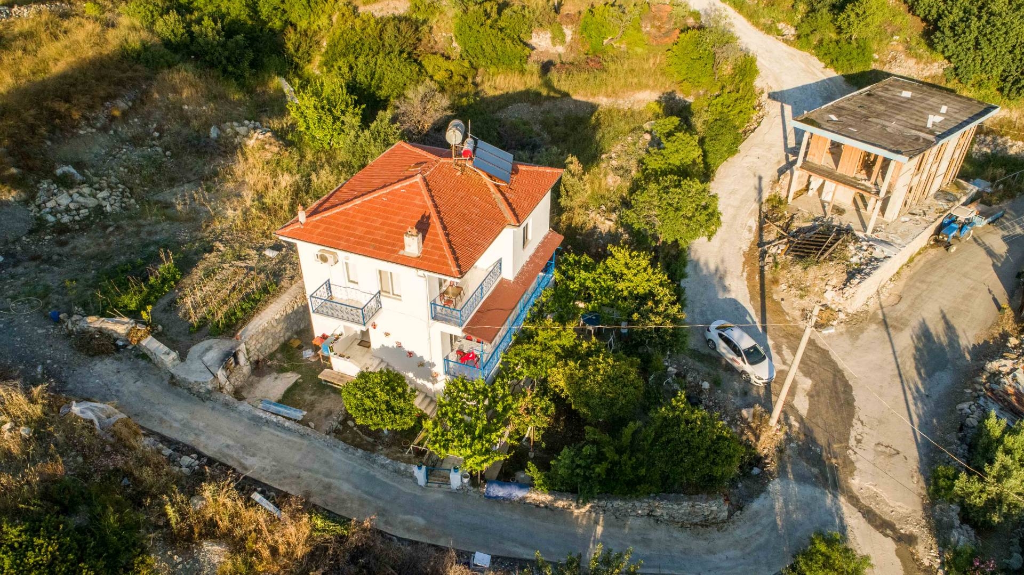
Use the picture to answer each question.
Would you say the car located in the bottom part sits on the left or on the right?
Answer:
right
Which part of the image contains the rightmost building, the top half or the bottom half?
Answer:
top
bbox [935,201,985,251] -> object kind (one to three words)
work vehicle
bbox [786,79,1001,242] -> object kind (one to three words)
building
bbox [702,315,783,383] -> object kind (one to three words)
car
